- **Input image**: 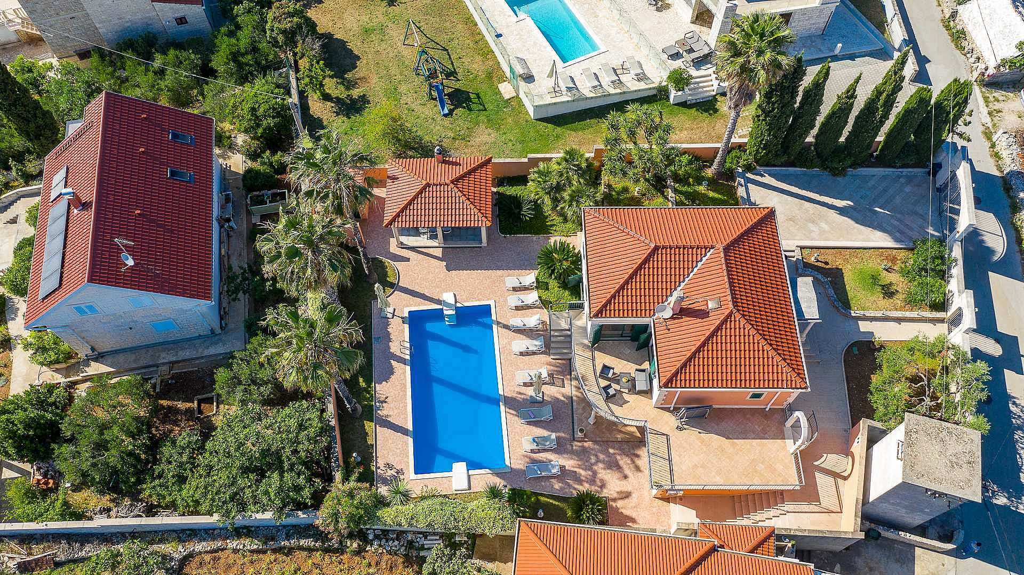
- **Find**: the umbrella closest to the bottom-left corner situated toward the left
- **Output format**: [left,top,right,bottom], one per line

[376,285,394,318]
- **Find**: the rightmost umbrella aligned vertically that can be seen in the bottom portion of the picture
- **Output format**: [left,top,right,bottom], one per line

[529,372,543,404]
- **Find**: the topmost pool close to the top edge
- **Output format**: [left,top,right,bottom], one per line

[510,0,598,63]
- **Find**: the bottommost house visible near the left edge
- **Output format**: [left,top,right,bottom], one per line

[20,89,237,358]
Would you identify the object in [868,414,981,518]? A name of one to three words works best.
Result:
building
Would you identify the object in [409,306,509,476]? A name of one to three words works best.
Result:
swimming pool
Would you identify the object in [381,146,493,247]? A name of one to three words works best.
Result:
gazebo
